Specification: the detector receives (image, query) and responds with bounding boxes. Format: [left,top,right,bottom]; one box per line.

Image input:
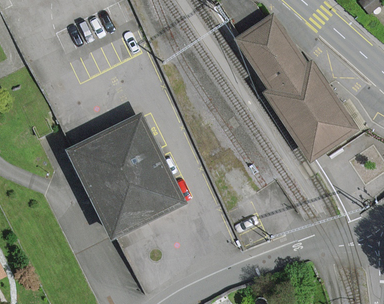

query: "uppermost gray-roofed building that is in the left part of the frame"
[65,113,187,240]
